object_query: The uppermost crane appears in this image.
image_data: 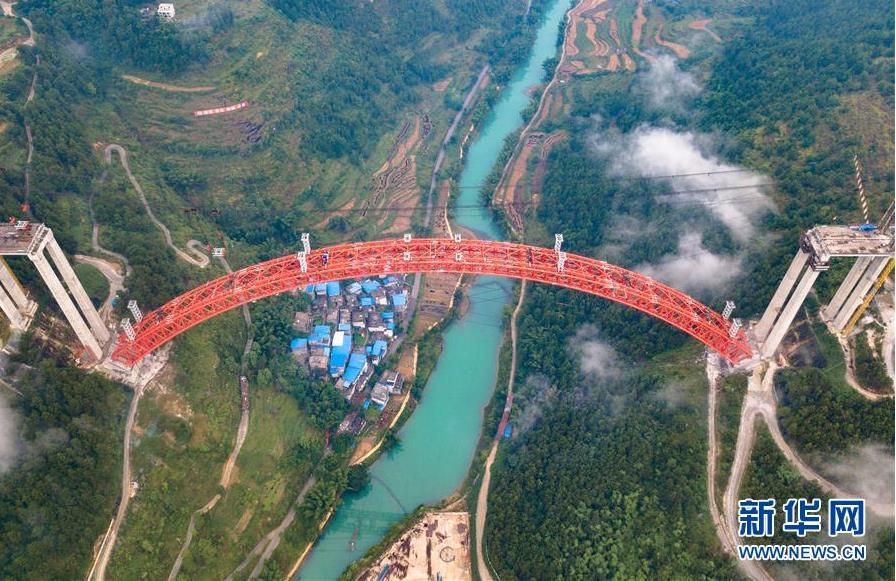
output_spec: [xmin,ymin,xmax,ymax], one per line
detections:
[854,155,879,231]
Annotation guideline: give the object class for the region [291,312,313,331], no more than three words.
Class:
house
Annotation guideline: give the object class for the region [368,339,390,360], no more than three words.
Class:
house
